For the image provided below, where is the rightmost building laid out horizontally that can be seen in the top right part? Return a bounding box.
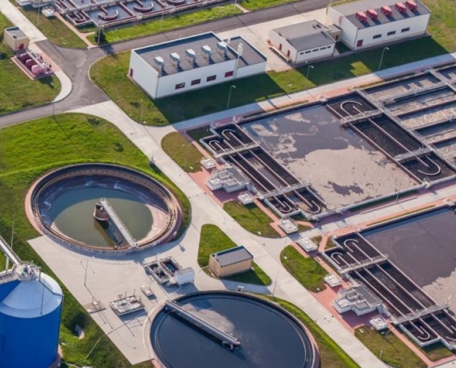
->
[326,0,430,51]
